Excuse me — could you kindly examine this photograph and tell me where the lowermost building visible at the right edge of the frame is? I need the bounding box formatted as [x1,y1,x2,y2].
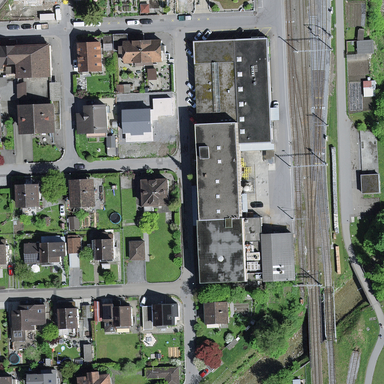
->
[361,173,379,194]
